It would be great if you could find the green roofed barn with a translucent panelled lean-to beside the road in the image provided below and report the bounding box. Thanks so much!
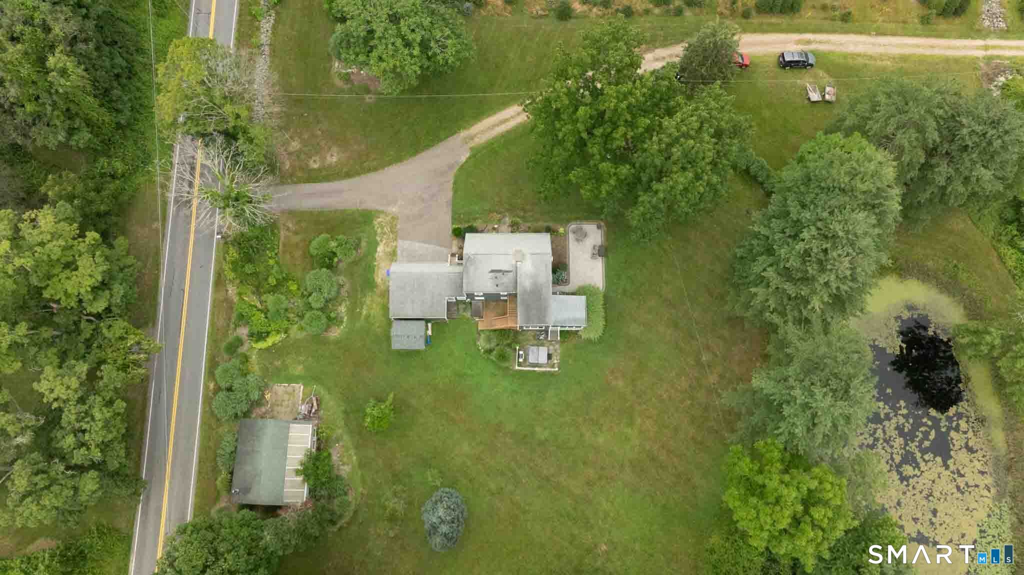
[230,419,319,506]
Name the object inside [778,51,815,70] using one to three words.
car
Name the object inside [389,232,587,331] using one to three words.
house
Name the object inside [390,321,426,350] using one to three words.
shed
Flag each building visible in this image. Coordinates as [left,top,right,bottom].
[389,232,587,331]
[230,419,319,506]
[390,321,426,350]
